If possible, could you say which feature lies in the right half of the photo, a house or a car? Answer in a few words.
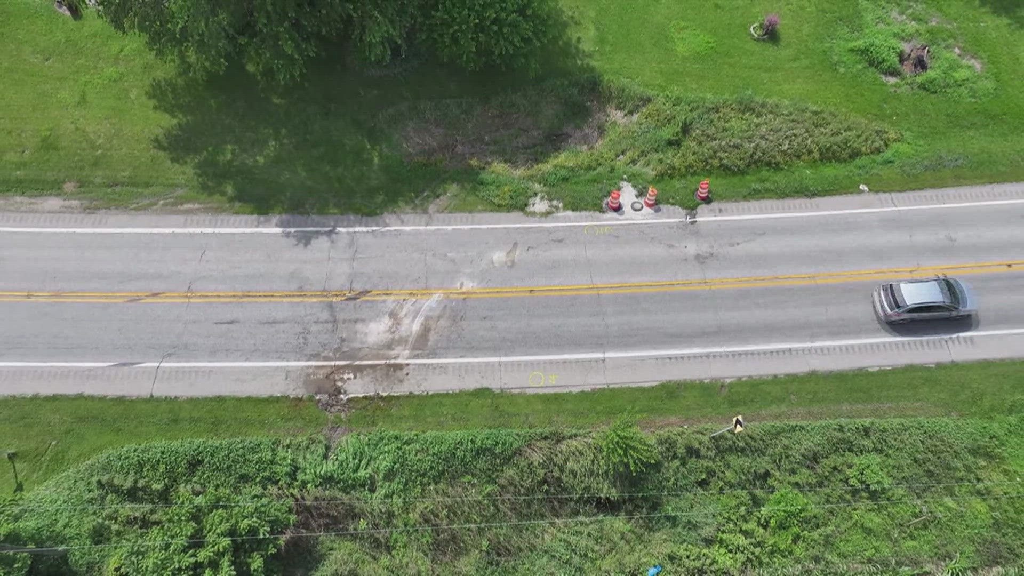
car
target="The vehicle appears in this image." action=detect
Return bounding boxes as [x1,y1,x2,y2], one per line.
[874,273,982,323]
